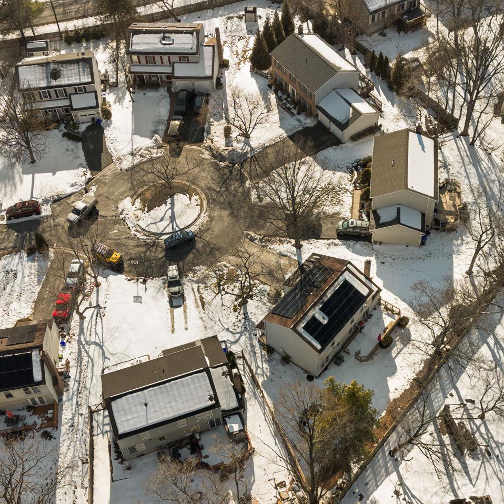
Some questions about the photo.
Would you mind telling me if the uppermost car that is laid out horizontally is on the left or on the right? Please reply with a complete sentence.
The uppermost car that is laid out horizontally sits on the left side.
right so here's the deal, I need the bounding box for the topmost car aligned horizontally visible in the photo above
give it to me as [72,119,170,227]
[6,199,41,219]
